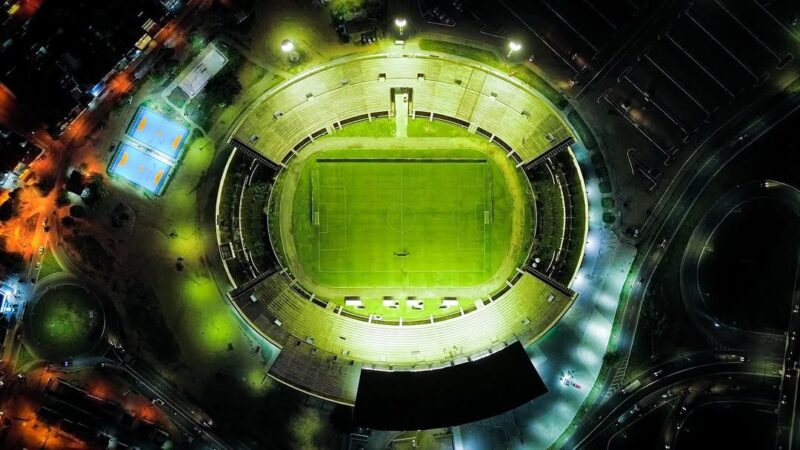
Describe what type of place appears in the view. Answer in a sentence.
The area seen from above is a sports ground.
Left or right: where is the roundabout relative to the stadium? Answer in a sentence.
Looking at the picture, you'll find the roundabout to the left of the stadium.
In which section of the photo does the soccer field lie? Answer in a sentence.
You can find the soccer field in the center area of the picture.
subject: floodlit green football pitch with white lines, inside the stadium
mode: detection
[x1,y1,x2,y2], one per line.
[314,157,489,281]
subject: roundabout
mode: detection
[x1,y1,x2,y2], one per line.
[19,270,116,367]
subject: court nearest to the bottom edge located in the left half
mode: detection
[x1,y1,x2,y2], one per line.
[103,139,173,197]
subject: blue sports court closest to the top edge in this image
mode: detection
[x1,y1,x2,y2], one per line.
[122,105,192,161]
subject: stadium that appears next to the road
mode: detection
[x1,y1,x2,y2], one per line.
[216,52,588,430]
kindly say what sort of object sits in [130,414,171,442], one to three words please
shed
